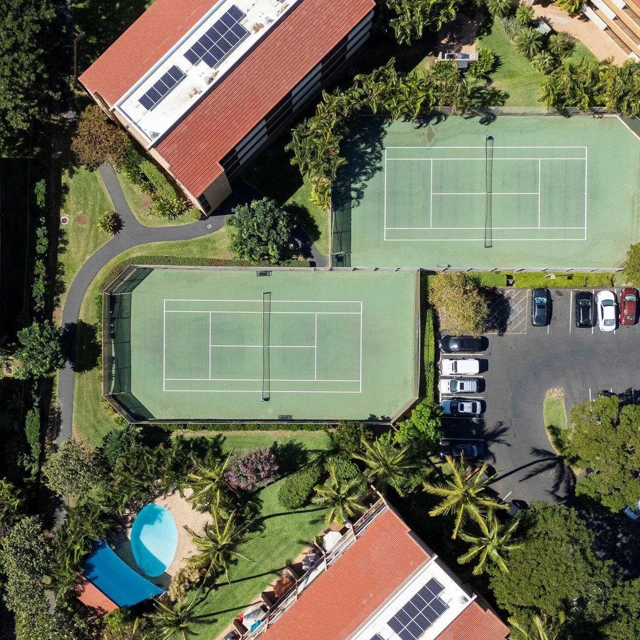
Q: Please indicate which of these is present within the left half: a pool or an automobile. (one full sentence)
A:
The one visible within the left half is a pool.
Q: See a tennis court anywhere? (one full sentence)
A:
Yes, the photo shows a tennis court.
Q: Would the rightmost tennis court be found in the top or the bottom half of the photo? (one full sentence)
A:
It is in the top half that the rightmost tennis court appears.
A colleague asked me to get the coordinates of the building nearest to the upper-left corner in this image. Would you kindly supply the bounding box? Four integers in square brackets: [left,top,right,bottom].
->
[78,0,379,211]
